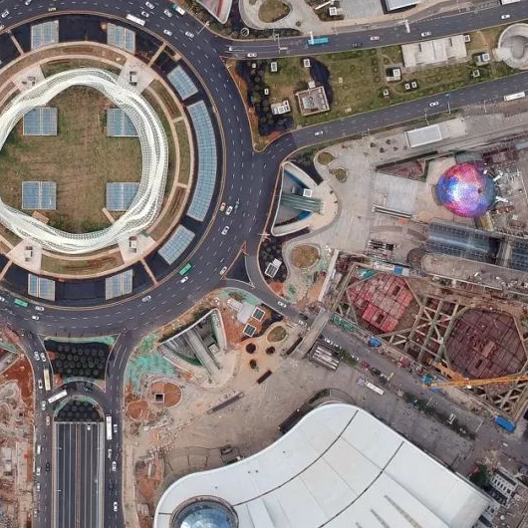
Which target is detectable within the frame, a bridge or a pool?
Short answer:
bridge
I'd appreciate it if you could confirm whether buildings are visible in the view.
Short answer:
Yes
